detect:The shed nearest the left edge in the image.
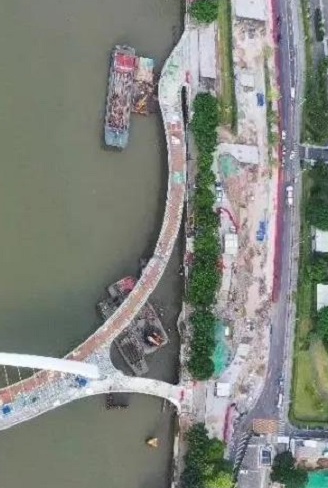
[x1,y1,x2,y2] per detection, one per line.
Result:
[197,28,217,81]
